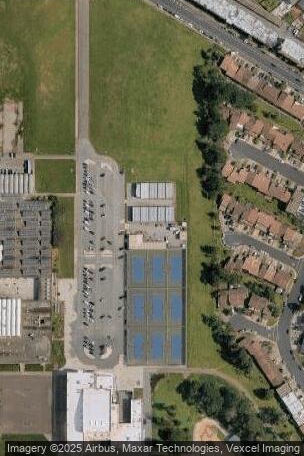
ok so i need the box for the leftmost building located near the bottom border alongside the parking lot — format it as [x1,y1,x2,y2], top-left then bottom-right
[66,372,143,456]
